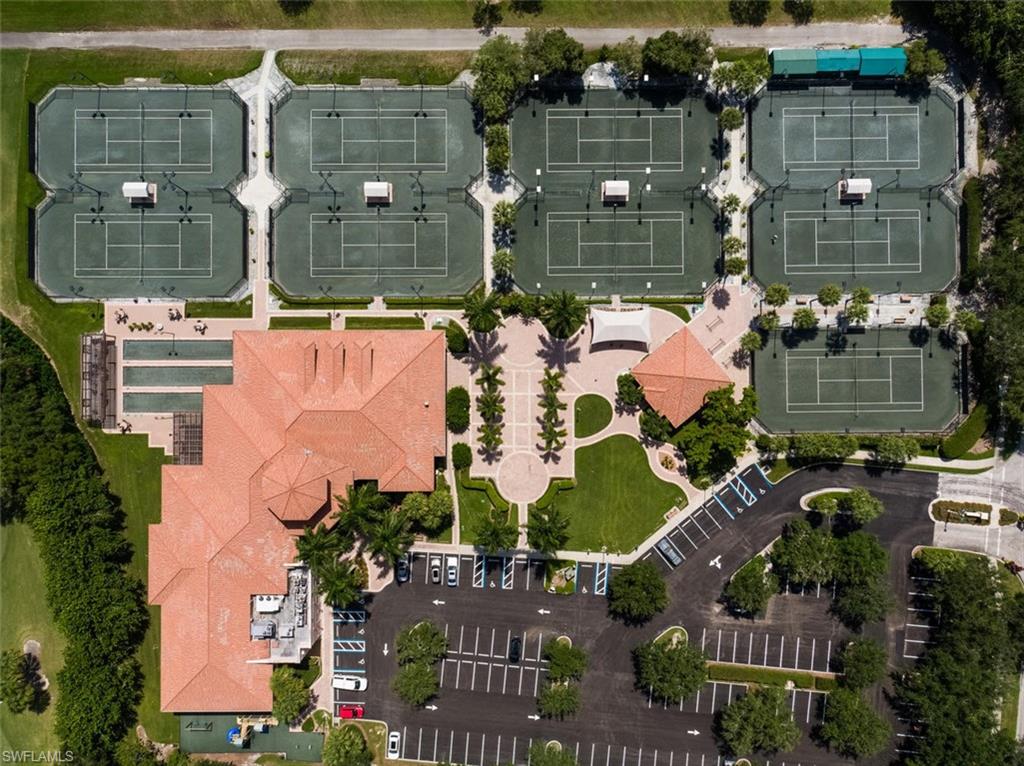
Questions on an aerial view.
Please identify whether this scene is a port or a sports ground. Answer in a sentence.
The area seen from above is a sports ground.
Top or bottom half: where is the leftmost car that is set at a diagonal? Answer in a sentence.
The bottom half of the photo is where the leftmost car that is set at a diagonal is.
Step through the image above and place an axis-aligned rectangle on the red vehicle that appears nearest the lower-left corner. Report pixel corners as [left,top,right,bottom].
[339,705,365,720]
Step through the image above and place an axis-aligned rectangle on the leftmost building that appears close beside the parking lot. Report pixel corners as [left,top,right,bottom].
[147,330,446,713]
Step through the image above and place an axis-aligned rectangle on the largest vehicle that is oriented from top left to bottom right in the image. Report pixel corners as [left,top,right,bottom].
[656,537,682,565]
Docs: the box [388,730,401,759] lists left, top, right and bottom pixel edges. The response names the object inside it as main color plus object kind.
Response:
white vehicle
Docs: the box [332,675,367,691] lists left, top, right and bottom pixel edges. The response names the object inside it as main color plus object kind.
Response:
white vehicle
